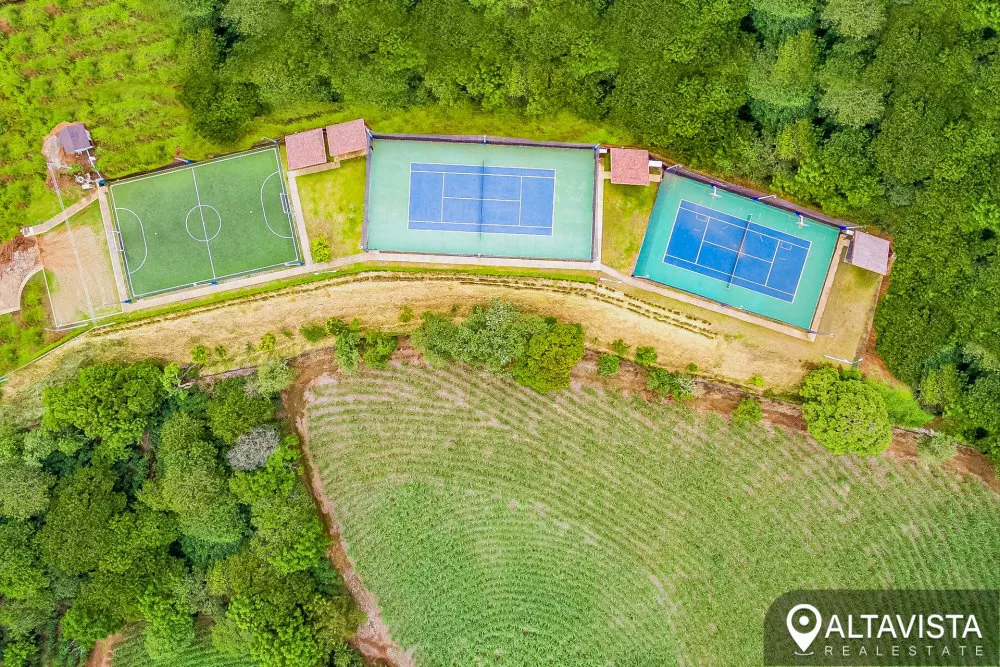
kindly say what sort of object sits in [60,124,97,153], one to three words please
shed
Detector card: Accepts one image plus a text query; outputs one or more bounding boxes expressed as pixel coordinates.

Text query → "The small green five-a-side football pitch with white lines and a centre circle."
[108,146,303,302]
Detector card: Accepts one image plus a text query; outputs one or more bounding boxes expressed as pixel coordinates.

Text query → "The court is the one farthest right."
[634,173,839,330]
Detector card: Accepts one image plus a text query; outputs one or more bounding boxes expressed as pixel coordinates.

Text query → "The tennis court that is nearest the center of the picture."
[367,140,595,261]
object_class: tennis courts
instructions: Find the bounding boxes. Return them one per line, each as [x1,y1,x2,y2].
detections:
[367,140,595,261]
[634,173,839,330]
